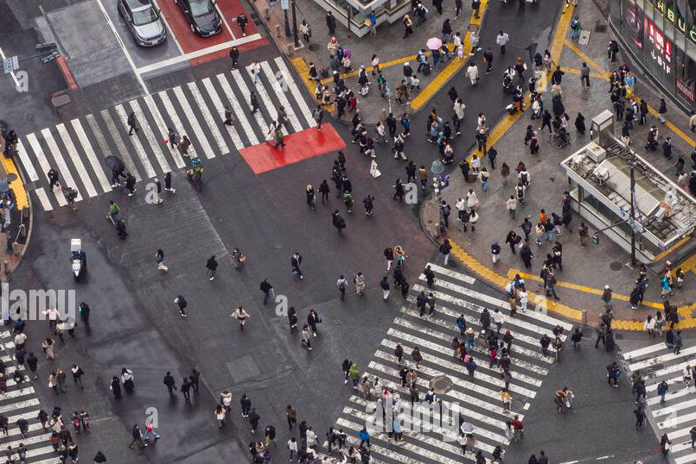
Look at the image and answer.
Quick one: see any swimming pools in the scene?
No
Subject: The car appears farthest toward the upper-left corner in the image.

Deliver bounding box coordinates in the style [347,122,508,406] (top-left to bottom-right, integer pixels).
[110,0,169,45]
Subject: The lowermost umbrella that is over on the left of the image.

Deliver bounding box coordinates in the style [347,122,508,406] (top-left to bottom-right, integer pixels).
[103,155,124,179]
